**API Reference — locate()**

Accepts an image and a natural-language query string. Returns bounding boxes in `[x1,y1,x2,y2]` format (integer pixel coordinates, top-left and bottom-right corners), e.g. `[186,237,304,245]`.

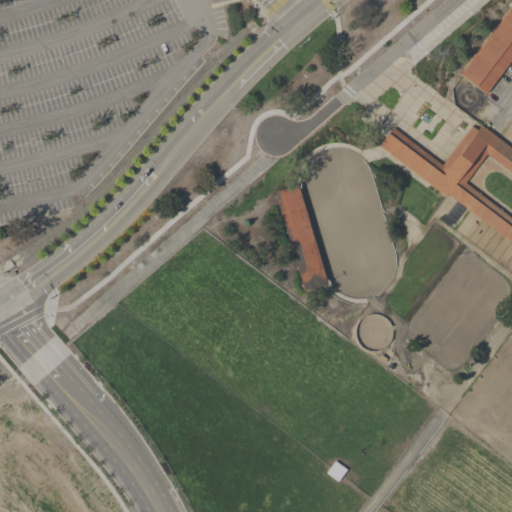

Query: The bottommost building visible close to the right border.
[384,126,512,240]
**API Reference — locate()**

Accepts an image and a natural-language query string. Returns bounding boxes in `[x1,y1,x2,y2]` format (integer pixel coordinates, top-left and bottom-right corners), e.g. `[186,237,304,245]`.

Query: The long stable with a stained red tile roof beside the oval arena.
[280,188,328,291]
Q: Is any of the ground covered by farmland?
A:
Yes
